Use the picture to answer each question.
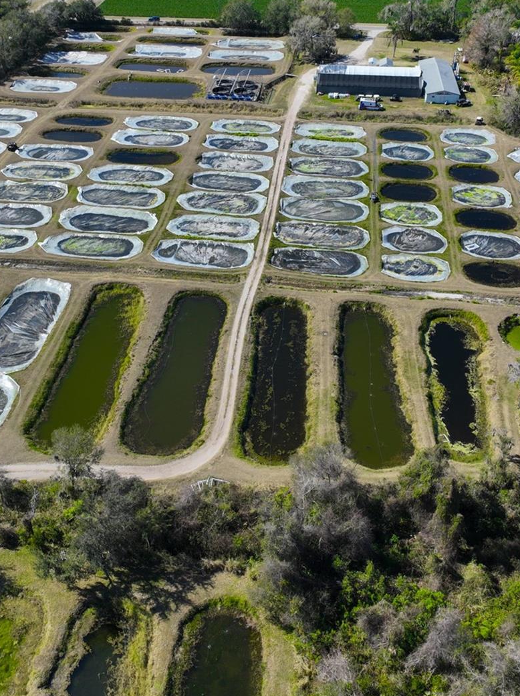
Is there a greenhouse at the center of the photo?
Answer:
No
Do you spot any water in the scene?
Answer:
Yes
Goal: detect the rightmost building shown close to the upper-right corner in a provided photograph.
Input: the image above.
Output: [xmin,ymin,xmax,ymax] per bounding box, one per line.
[407,49,465,103]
